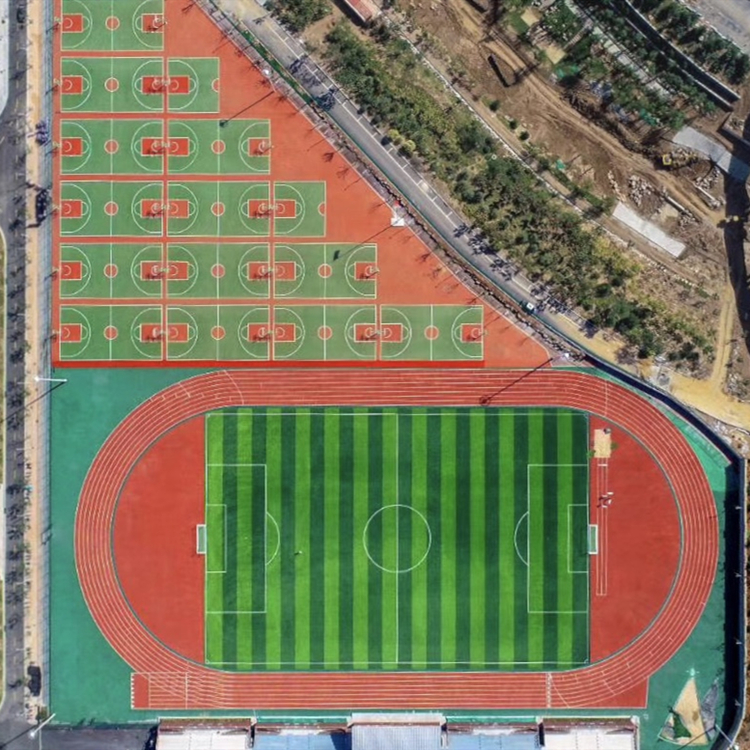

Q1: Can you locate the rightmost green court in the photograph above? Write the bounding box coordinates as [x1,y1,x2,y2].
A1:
[379,304,483,360]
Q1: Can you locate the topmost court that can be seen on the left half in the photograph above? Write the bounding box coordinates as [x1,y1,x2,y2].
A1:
[61,0,164,51]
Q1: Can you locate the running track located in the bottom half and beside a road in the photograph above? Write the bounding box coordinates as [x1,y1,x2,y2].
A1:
[74,369,719,709]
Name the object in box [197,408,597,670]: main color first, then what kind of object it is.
green soccer field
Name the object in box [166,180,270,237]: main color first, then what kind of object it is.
green basketball court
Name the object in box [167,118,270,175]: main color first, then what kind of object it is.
green basketball court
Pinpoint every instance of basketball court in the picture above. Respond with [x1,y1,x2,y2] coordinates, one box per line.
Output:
[166,180,270,237]
[59,242,163,299]
[272,242,376,299]
[60,180,163,237]
[166,304,270,360]
[273,180,326,237]
[167,56,220,113]
[379,304,483,360]
[167,118,270,175]
[166,242,270,299]
[272,304,376,360]
[59,304,163,360]
[61,0,164,51]
[61,56,164,113]
[60,118,163,175]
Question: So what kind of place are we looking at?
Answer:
sports ground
